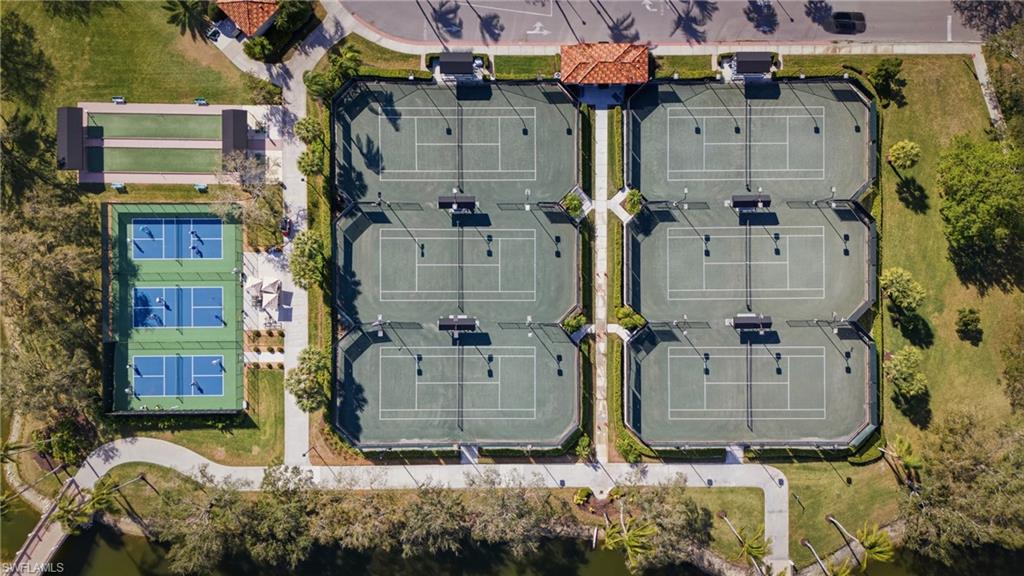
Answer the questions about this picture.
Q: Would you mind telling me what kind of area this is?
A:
sports ground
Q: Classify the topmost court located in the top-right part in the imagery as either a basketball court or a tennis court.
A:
tennis court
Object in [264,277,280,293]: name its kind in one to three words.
umbrella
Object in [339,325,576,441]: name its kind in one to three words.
tennis court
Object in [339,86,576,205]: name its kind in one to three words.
tennis court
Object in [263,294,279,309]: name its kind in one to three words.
umbrella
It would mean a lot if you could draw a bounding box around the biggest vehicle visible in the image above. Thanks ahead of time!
[831,10,865,27]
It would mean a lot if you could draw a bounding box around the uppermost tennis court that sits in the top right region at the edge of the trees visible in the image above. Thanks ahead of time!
[627,85,865,204]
